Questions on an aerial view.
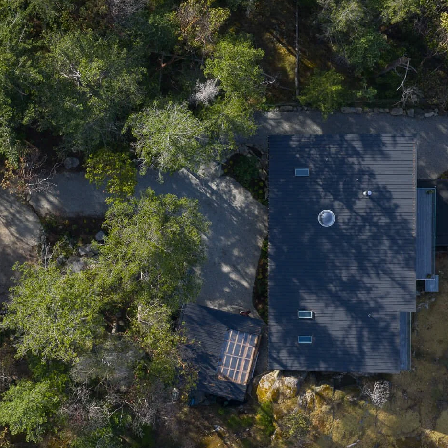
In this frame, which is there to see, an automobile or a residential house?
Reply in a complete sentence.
The one in the frame is a residential house.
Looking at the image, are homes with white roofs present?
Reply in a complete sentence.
No, no home with a white roof is visible in the scene.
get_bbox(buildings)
[166,304,266,404]
[266,132,440,374]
